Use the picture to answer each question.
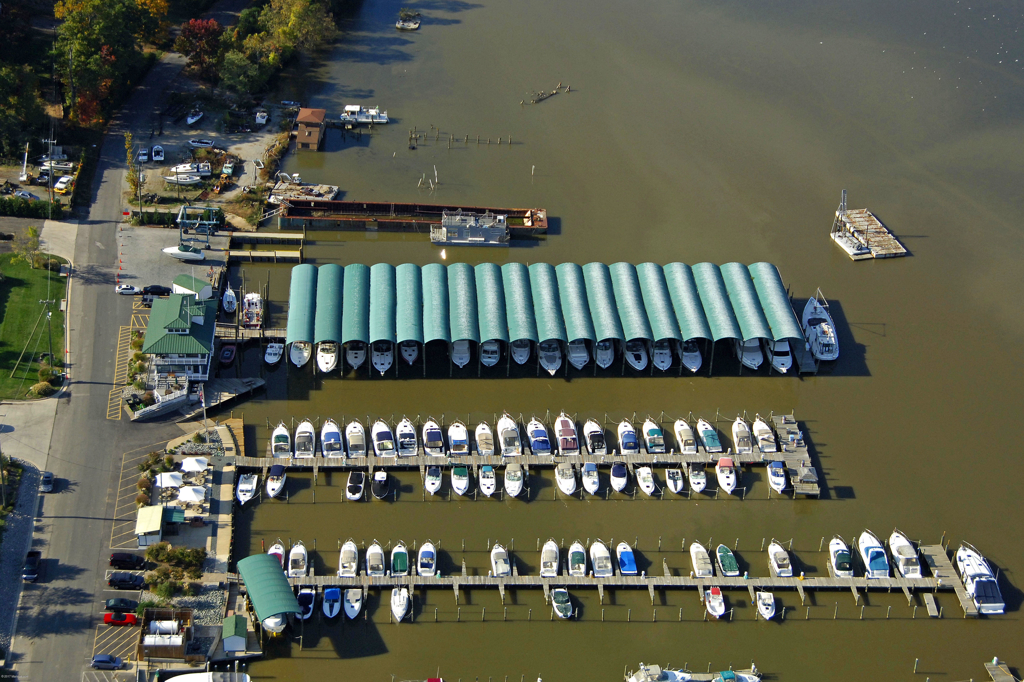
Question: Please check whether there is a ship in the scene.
Yes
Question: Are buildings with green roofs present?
Yes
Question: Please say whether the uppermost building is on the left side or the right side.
left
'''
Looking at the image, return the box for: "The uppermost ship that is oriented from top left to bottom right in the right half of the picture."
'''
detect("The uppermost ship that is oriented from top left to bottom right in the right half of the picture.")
[836,209,906,260]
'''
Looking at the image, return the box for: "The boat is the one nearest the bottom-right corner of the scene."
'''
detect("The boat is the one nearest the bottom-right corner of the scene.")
[957,537,1005,614]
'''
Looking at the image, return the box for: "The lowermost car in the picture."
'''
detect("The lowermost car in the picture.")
[90,656,124,672]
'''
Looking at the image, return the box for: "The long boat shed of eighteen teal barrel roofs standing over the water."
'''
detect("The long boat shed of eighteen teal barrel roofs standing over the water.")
[286,261,807,378]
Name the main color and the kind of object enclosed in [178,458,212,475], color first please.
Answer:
white tent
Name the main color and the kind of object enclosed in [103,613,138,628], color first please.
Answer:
red car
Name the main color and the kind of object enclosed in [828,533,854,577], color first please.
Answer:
white boat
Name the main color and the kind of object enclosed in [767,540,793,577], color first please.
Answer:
white boat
